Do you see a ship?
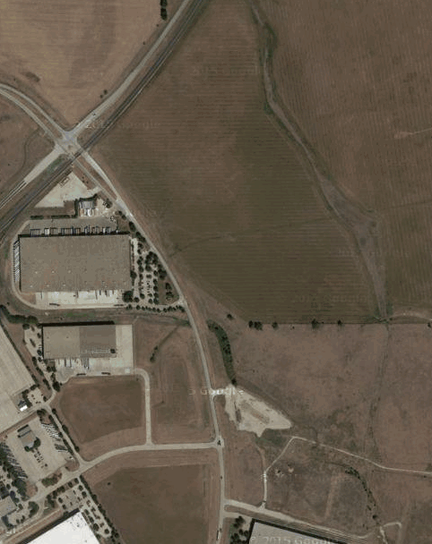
No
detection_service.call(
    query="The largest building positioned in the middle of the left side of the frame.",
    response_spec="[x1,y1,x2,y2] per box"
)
[19,236,131,292]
